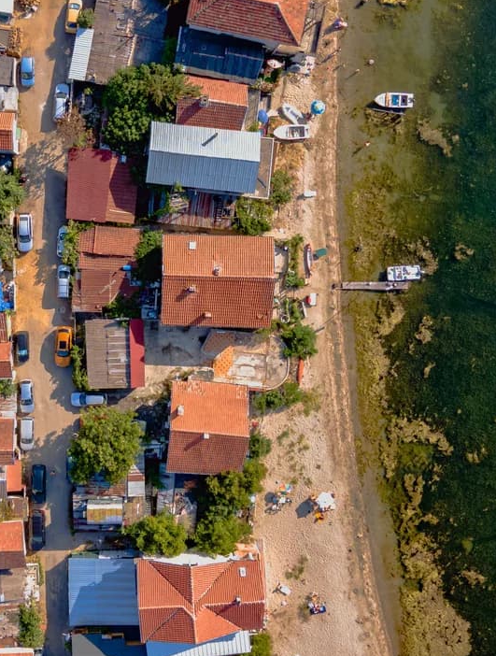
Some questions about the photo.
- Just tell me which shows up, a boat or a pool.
boat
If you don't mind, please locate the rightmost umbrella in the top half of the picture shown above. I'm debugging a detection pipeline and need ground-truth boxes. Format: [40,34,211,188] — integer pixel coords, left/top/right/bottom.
[308,100,324,116]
